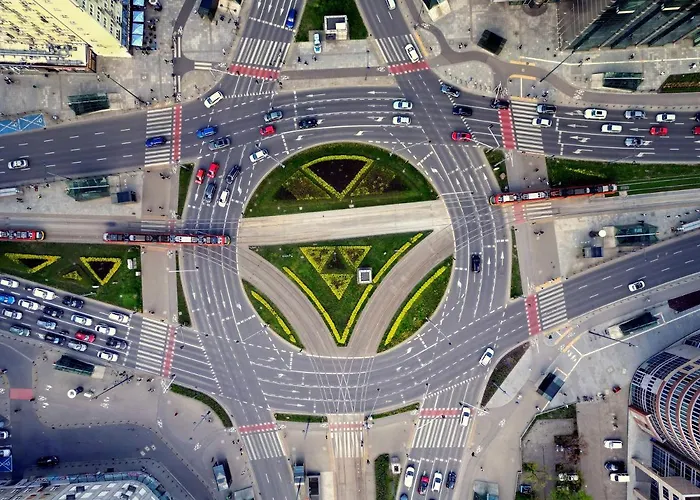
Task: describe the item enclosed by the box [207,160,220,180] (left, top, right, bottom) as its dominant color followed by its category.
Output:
red vehicle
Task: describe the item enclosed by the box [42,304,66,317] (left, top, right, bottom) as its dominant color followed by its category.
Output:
black vehicle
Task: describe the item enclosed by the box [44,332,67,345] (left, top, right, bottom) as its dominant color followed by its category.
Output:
black vehicle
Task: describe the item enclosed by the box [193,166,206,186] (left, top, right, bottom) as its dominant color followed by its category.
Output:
red vehicle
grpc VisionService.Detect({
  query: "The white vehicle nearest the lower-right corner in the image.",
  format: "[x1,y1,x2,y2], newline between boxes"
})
[608,472,634,484]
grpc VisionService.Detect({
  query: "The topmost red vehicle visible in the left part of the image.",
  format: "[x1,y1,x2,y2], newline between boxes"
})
[258,124,278,137]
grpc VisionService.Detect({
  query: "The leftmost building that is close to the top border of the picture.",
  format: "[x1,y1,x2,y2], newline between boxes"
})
[0,0,131,73]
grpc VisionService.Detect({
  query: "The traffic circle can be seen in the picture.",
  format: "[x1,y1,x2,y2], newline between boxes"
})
[182,84,527,416]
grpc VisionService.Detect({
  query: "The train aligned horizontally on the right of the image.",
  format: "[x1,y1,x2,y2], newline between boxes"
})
[485,181,615,207]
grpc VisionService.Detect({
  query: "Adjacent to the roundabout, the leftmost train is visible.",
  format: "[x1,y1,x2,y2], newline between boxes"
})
[105,232,234,246]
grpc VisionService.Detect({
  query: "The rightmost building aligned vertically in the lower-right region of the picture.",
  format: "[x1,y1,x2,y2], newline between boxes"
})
[628,328,700,483]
